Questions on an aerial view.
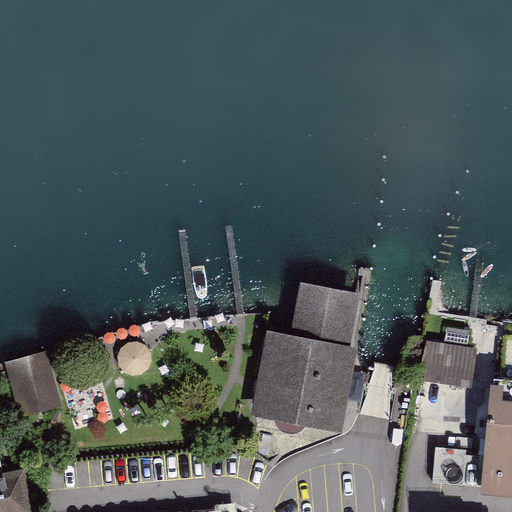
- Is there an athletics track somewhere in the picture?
No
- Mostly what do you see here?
water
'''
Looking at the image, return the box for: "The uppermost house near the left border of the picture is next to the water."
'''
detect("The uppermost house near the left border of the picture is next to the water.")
[5,350,62,414]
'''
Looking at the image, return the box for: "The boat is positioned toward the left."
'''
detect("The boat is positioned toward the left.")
[192,265,206,298]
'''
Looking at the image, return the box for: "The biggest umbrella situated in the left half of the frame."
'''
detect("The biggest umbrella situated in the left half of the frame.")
[118,342,152,376]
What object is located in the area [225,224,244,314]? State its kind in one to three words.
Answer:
pier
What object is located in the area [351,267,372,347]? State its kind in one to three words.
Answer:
pier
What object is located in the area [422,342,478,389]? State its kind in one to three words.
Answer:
building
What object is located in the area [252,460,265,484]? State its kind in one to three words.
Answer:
vehicle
